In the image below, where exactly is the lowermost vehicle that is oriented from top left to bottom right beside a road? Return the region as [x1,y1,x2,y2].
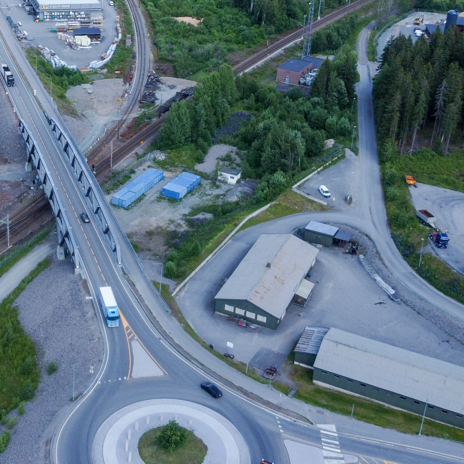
[200,378,225,396]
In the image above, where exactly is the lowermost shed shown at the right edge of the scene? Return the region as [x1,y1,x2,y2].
[310,326,464,422]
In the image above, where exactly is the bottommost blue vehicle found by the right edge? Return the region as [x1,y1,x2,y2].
[429,230,450,246]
